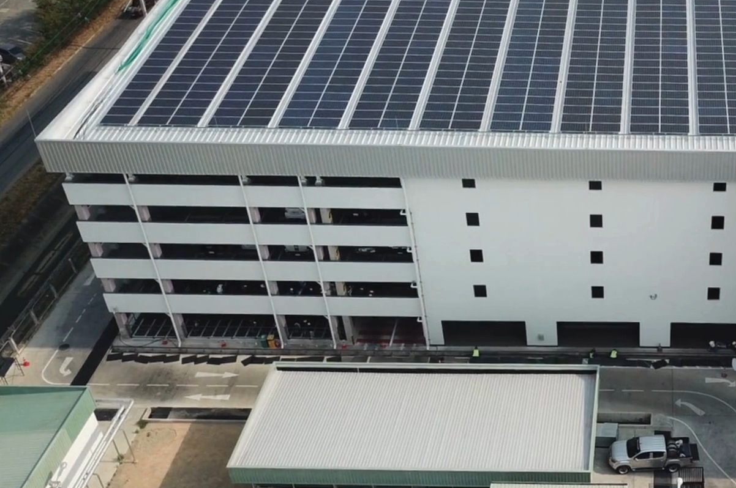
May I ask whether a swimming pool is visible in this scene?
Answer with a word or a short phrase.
No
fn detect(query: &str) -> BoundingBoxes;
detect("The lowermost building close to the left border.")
[0,385,104,488]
